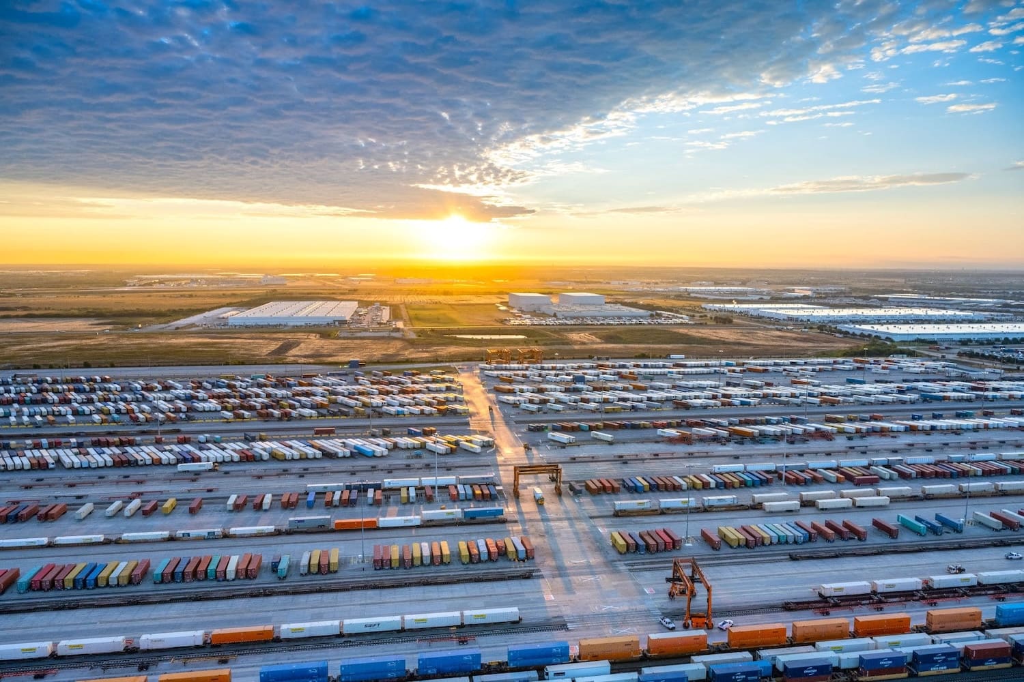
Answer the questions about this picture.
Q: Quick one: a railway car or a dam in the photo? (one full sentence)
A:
I can see a railway car in this picture.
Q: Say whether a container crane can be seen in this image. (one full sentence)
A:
Yes, there's a container crane here.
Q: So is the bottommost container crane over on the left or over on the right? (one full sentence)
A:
The bottommost container crane sits on the right side.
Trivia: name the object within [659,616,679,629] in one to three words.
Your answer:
vehicle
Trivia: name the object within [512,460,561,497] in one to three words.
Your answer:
container crane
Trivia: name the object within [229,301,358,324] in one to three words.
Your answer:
building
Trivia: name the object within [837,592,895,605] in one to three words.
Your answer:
rail car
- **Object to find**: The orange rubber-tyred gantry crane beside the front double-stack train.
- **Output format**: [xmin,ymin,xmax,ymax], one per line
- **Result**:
[664,555,718,628]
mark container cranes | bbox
[515,346,541,364]
[664,555,718,628]
[512,460,561,497]
[485,346,510,364]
